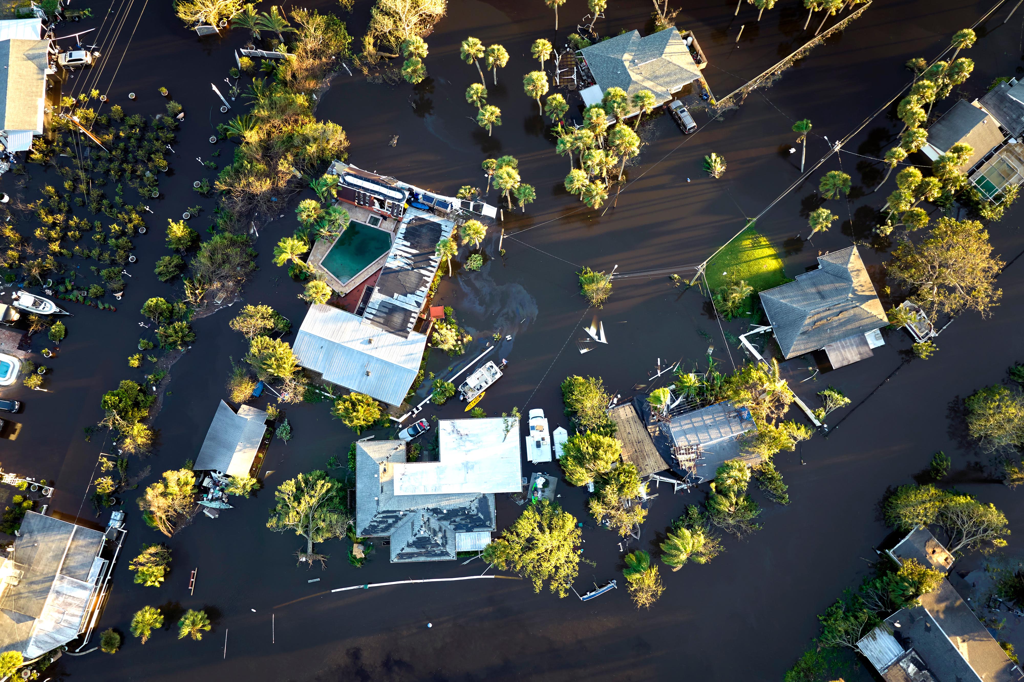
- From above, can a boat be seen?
Yes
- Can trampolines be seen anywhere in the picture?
No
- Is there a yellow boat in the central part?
Yes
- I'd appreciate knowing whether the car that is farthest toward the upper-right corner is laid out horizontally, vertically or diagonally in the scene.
diagonally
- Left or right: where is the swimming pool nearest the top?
left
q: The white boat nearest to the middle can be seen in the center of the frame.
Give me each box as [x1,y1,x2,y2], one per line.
[458,356,504,402]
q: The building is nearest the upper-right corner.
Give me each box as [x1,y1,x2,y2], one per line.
[971,77,1024,145]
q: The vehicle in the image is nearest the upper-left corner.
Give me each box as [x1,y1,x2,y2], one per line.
[61,50,95,66]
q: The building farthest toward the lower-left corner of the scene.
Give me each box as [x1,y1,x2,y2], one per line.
[0,510,120,659]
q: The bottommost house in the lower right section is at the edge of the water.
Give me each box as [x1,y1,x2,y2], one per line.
[850,577,1024,682]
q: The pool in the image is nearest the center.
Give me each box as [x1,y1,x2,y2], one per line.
[307,200,402,296]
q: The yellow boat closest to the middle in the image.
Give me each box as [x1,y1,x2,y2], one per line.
[465,392,485,412]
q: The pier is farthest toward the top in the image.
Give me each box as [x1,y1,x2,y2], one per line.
[552,53,577,86]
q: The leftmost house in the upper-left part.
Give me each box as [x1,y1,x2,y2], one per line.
[0,18,61,158]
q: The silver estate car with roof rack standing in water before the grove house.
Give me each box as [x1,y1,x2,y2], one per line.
[667,101,697,135]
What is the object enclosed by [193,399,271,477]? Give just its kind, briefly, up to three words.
house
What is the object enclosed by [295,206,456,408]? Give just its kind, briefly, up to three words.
house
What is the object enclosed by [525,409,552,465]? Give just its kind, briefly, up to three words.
camper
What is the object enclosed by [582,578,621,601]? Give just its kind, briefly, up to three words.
boat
